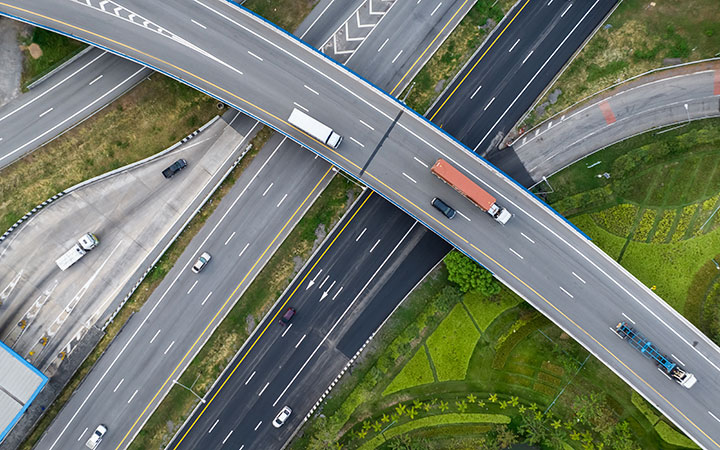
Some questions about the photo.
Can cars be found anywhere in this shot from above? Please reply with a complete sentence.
Yes, a car appears in the view.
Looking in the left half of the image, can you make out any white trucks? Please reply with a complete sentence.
Yes, in the left half of the image there is a white truck.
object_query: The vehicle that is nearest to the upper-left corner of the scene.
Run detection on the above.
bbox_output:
[162,160,189,179]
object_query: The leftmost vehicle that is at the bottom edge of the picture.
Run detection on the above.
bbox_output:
[86,423,110,450]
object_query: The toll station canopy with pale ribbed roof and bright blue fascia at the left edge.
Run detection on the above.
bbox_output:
[0,338,50,443]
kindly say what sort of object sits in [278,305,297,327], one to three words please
car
